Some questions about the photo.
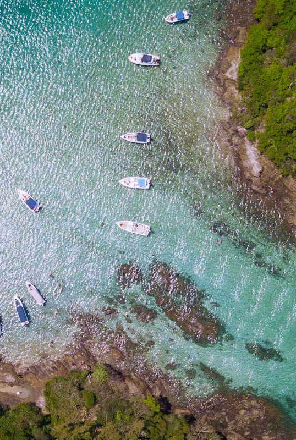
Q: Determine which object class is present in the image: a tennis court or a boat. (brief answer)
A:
boat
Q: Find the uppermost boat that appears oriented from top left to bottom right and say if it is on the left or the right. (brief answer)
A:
left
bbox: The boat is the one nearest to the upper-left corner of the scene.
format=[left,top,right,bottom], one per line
[129,53,162,67]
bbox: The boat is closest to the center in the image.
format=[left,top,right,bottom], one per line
[117,220,154,239]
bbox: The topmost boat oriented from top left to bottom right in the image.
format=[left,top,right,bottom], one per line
[18,188,43,216]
